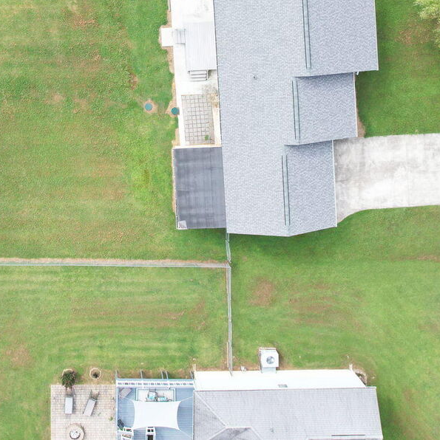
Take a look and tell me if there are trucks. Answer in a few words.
No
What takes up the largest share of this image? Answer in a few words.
grass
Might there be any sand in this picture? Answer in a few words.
No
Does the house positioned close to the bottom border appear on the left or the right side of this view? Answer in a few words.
right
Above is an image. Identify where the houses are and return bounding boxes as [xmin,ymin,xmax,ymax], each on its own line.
[193,361,382,440]
[171,0,380,236]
